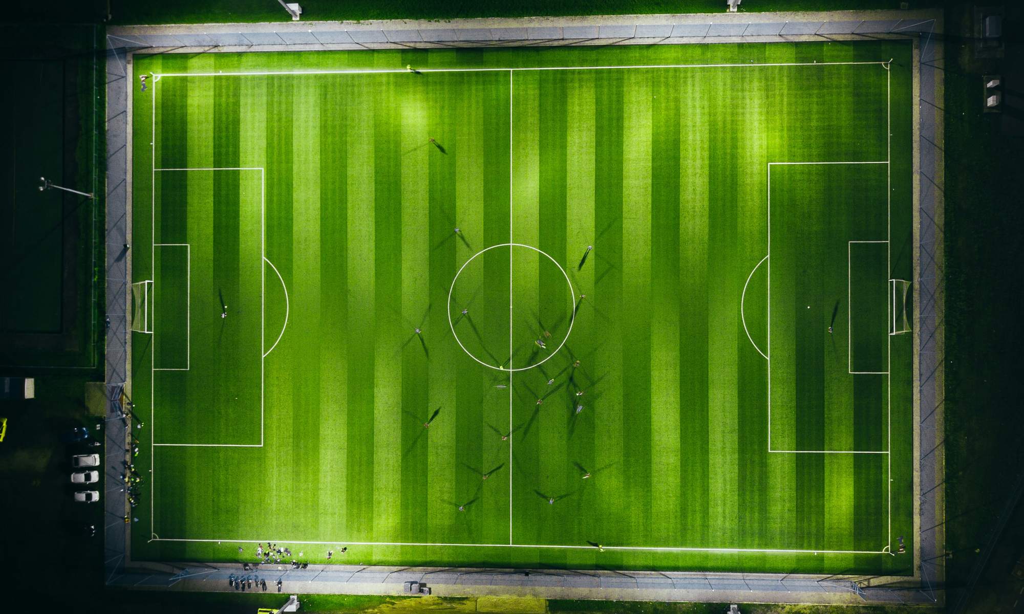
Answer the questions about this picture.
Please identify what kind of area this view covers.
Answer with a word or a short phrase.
sports ground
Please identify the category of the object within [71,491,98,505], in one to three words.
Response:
car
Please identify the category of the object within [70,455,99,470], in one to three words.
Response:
car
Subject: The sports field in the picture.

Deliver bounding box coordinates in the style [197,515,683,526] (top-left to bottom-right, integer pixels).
[131,39,913,577]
